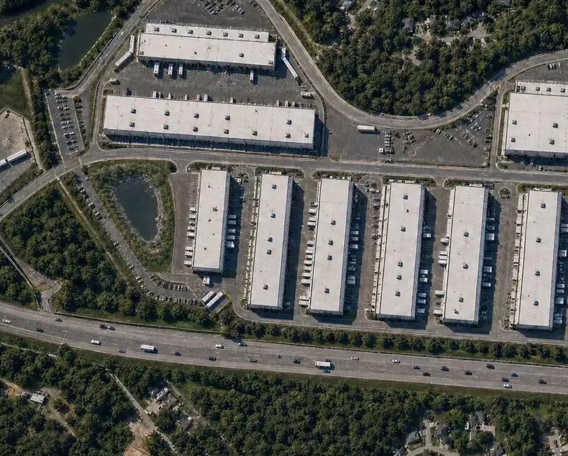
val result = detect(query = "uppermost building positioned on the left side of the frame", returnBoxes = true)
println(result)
[136,24,280,71]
